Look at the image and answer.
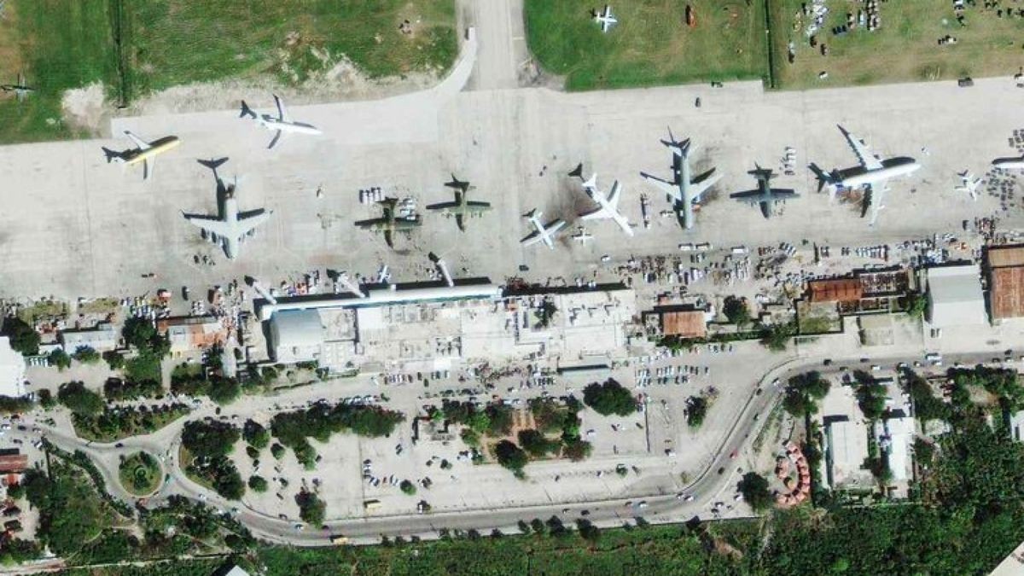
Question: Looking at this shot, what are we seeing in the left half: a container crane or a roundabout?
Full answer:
There is a roundabout in the left half.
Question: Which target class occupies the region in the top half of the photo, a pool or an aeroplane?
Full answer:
What appears in the top half of the photo is an aeroplane.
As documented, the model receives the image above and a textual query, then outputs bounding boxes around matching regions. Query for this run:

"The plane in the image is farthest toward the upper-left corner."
[112,130,178,180]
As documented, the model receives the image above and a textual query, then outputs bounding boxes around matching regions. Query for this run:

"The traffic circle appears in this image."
[105,439,175,509]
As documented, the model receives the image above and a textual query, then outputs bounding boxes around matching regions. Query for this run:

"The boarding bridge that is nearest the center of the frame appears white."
[434,257,456,287]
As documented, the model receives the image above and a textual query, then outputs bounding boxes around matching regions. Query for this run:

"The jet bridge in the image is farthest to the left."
[250,279,278,304]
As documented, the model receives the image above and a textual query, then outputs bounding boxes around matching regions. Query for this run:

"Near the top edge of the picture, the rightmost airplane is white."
[597,6,617,33]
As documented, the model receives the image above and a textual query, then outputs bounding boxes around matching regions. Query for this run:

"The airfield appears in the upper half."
[0,0,1024,307]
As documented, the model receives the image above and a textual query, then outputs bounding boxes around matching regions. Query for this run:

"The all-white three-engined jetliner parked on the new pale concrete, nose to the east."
[253,97,321,150]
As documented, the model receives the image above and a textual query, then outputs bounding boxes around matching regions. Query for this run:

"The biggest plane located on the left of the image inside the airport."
[191,169,271,258]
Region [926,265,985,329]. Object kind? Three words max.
hangar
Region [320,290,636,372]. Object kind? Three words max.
building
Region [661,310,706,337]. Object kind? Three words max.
building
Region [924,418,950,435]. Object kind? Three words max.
house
